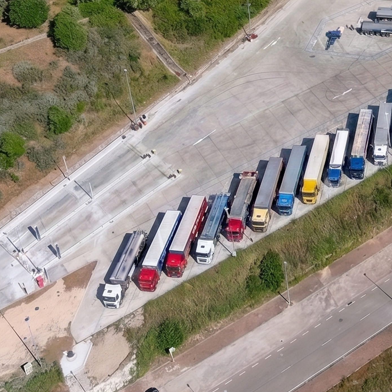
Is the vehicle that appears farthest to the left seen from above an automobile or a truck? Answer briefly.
truck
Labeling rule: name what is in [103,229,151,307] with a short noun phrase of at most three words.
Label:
truck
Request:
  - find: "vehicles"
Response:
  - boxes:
[224,169,257,243]
[192,191,231,265]
[371,101,392,169]
[325,129,350,188]
[137,210,183,293]
[250,155,284,231]
[103,229,151,307]
[347,109,373,180]
[164,196,209,277]
[276,144,306,219]
[376,8,392,22]
[299,133,331,205]
[325,22,342,45]
[146,386,158,392]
